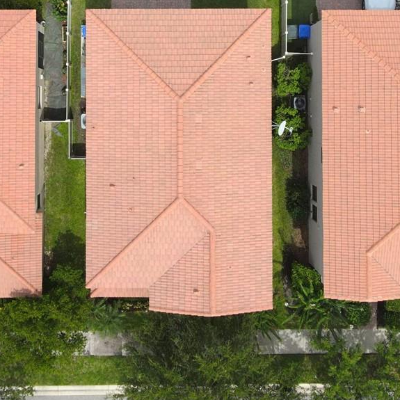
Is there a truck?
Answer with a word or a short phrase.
No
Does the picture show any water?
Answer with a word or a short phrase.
No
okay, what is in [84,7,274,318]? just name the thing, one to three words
house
